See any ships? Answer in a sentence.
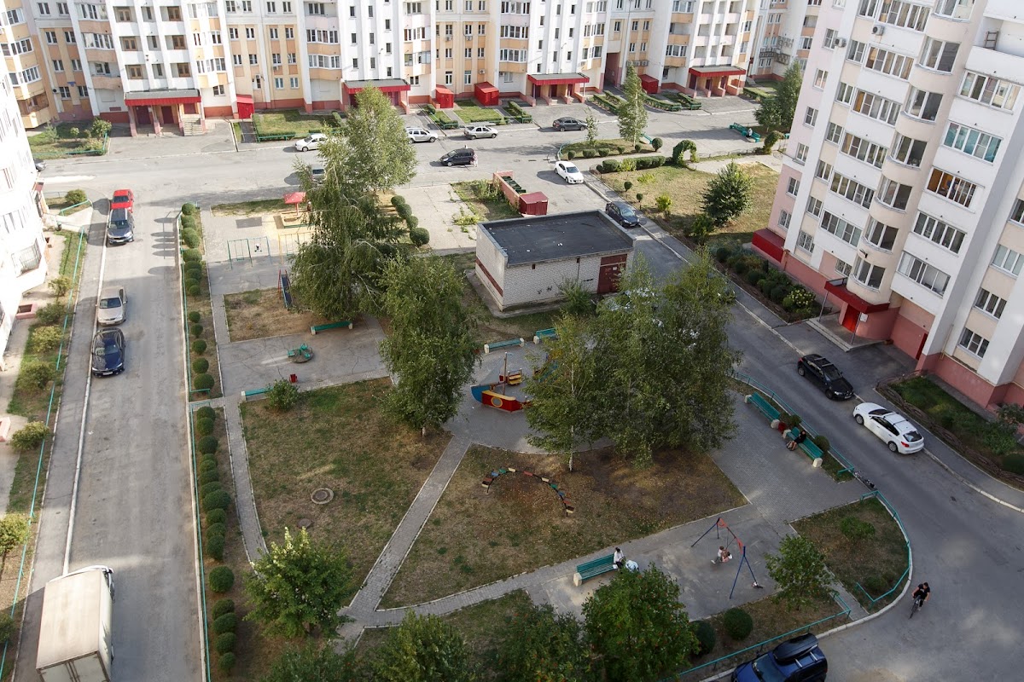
Yes, you can see a ship in this photo.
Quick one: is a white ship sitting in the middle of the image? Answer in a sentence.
No, in the middle of the image there is no white ship.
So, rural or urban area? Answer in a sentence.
It looks urban.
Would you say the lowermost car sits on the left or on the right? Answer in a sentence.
You can find the lowermost car on the right side of the picture.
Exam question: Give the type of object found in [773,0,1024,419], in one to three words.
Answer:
building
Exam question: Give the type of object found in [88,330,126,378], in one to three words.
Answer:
car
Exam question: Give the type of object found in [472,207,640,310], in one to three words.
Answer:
building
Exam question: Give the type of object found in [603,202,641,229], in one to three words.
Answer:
car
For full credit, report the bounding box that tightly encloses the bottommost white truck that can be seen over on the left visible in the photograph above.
[32,558,121,682]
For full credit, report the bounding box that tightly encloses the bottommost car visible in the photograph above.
[723,631,837,682]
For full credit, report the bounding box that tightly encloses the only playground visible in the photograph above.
[200,191,398,396]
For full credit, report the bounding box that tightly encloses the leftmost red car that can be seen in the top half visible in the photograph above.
[108,190,134,213]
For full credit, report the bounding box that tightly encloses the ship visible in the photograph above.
[463,354,545,412]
